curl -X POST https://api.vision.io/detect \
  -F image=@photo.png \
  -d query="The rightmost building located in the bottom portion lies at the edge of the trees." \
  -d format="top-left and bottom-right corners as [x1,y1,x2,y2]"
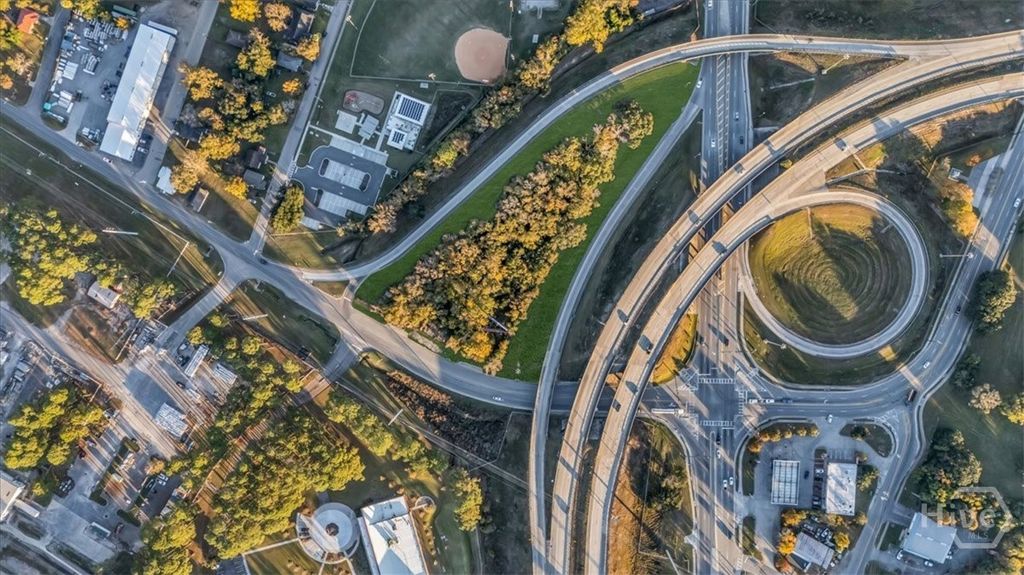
[899,511,957,564]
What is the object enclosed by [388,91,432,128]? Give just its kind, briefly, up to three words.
building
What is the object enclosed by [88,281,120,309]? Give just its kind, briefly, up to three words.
shed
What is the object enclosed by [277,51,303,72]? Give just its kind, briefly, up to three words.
house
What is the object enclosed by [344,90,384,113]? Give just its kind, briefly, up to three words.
playground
